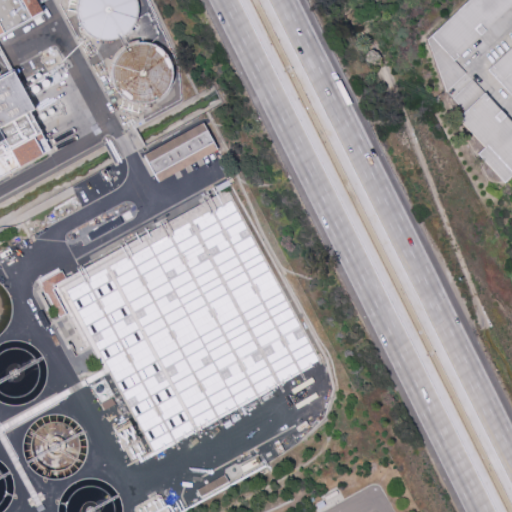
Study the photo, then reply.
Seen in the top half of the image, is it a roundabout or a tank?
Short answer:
tank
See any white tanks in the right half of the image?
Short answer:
No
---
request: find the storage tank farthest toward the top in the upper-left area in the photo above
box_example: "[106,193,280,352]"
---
[78,0,140,40]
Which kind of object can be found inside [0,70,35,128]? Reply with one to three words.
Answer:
building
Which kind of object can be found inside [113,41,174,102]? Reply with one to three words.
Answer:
storage tank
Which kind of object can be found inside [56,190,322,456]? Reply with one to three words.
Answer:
building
